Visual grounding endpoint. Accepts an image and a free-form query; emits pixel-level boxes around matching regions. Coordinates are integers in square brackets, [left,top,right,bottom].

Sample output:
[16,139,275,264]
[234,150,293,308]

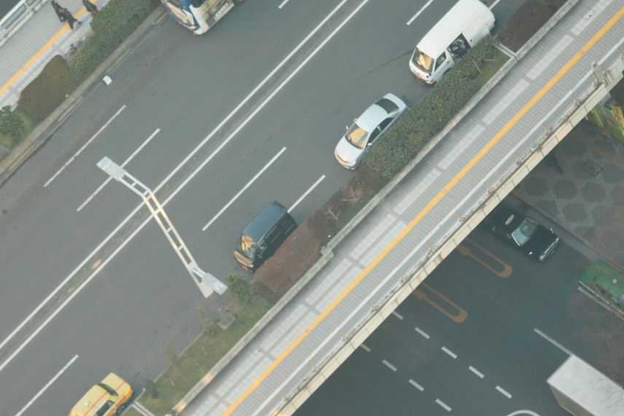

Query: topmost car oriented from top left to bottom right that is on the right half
[482,201,561,266]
